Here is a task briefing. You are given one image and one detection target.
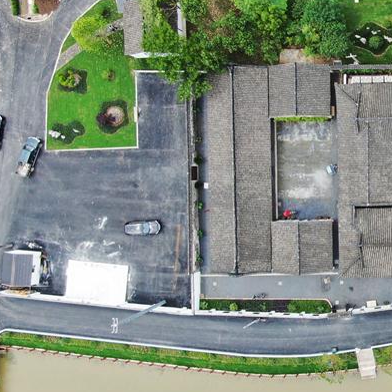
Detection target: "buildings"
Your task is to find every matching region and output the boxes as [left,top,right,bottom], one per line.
[4,250,43,287]
[121,0,163,62]
[335,82,392,278]
[198,59,335,278]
